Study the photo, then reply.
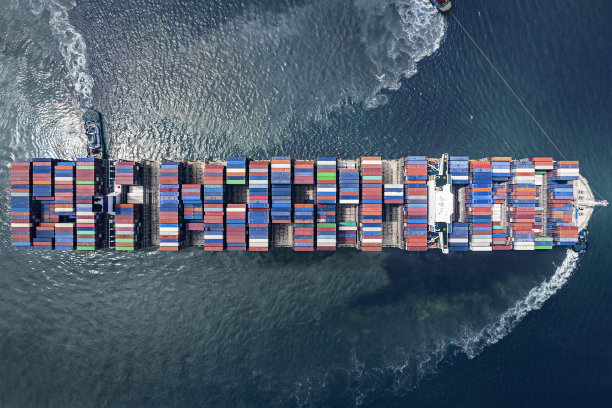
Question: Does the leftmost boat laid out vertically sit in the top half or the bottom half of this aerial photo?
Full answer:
You can find the leftmost boat laid out vertically in the top half.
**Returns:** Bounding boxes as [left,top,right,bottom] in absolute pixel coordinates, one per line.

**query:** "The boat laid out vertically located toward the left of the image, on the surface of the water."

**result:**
[84,106,106,159]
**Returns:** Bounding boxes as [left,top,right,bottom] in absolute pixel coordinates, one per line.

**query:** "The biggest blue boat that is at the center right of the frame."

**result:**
[570,225,592,253]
